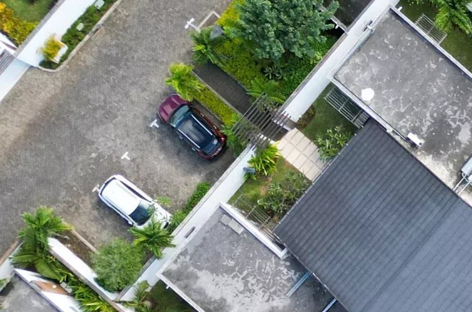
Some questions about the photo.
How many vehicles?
2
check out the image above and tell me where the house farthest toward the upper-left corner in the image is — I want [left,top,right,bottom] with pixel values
[0,22,55,104]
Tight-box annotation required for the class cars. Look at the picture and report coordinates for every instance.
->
[157,93,234,164]
[94,167,177,231]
